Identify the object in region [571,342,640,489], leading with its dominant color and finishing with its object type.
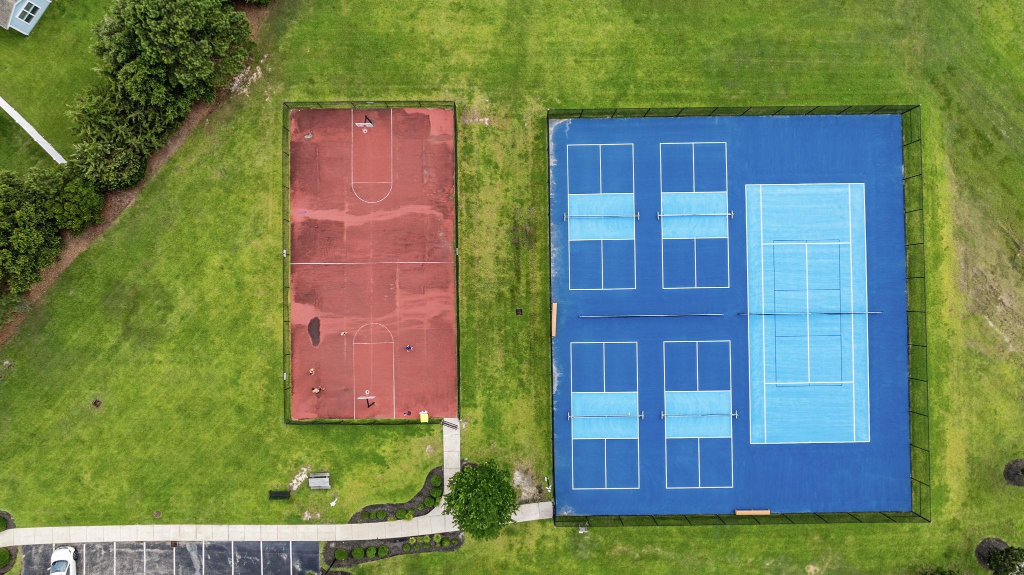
blue sports court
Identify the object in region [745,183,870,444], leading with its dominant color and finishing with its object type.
blue tennis court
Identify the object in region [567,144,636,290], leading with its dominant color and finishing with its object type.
blue sports court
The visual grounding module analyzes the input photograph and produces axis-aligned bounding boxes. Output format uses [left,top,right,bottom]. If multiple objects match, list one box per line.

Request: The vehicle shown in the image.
[46,545,76,575]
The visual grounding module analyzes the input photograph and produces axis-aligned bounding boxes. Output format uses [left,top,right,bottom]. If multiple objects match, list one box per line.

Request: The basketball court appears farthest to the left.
[290,108,458,420]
